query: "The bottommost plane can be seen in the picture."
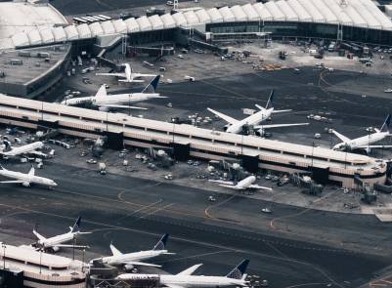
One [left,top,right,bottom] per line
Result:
[117,260,252,288]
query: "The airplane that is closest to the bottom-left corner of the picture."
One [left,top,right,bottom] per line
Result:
[33,216,93,251]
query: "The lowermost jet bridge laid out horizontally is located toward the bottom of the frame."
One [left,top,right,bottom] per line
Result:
[84,271,165,288]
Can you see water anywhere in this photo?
No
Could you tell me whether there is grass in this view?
No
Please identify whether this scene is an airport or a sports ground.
airport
